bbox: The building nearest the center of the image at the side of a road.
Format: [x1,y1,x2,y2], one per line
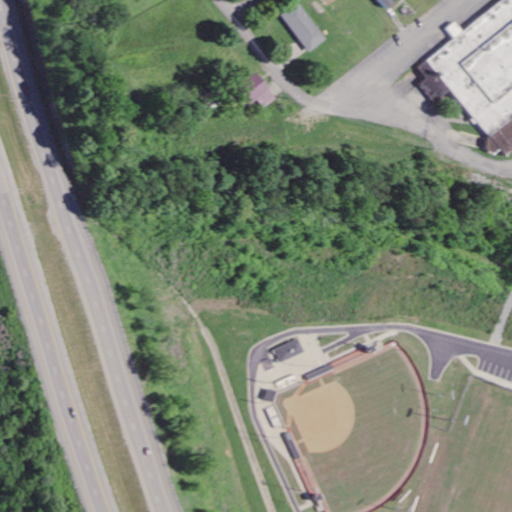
[276,339,300,362]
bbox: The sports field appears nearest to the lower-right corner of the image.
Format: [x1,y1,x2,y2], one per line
[441,380,512,512]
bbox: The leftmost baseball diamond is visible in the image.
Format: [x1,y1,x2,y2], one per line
[276,342,430,512]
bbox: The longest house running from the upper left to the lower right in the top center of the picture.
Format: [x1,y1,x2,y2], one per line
[281,4,326,52]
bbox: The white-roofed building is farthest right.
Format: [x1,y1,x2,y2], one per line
[418,0,512,156]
